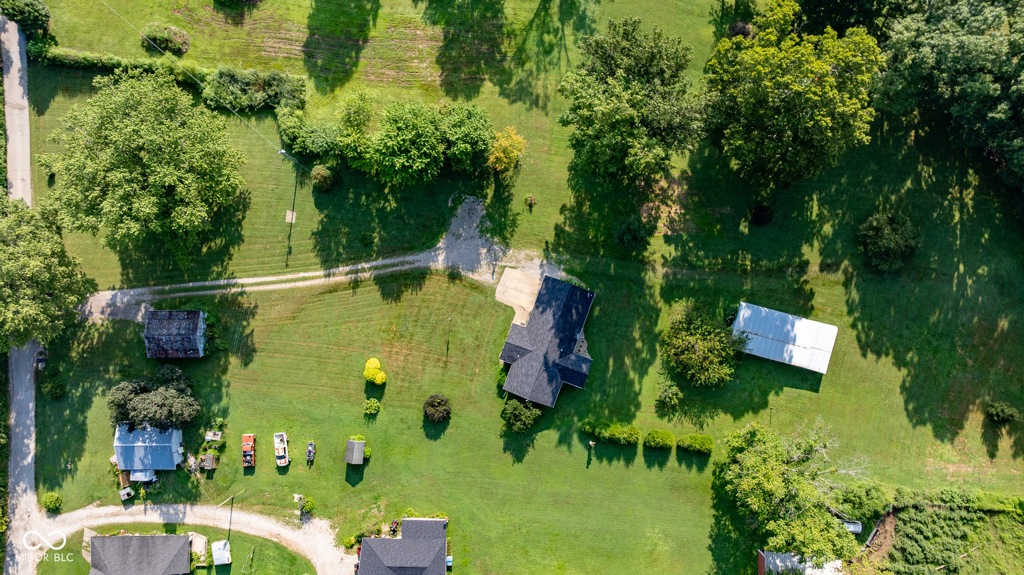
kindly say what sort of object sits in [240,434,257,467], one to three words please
vehicle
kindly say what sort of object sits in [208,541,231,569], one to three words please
shed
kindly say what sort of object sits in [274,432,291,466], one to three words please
vehicle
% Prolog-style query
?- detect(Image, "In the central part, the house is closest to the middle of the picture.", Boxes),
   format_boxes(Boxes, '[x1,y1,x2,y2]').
[499,275,596,408]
